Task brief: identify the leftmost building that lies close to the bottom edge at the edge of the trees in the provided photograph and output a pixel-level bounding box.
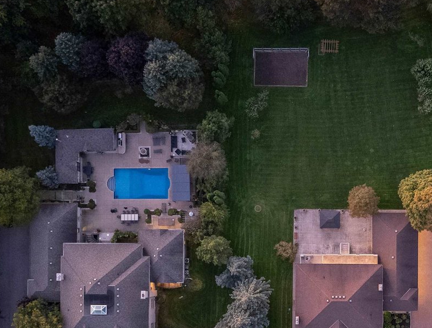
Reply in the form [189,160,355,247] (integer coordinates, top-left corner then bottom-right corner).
[27,203,186,328]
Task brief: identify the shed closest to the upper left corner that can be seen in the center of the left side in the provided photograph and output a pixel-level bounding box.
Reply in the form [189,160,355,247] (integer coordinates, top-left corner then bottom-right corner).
[55,128,116,184]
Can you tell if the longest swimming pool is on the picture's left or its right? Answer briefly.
left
